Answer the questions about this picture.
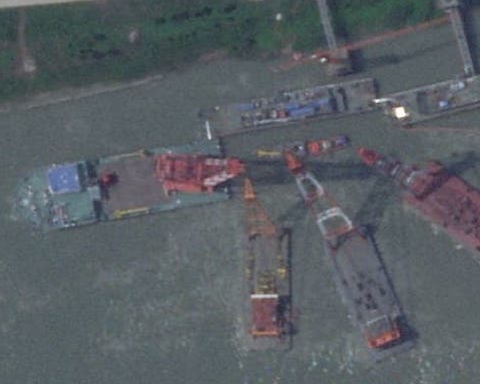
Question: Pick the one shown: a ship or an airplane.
ship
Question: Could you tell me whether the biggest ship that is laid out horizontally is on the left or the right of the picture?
left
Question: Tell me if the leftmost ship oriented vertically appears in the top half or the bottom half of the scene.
bottom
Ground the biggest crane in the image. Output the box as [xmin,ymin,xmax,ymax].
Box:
[276,20,450,70]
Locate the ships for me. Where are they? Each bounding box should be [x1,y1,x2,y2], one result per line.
[16,129,276,228]
[241,175,304,344]
[361,146,480,252]
[285,150,407,350]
